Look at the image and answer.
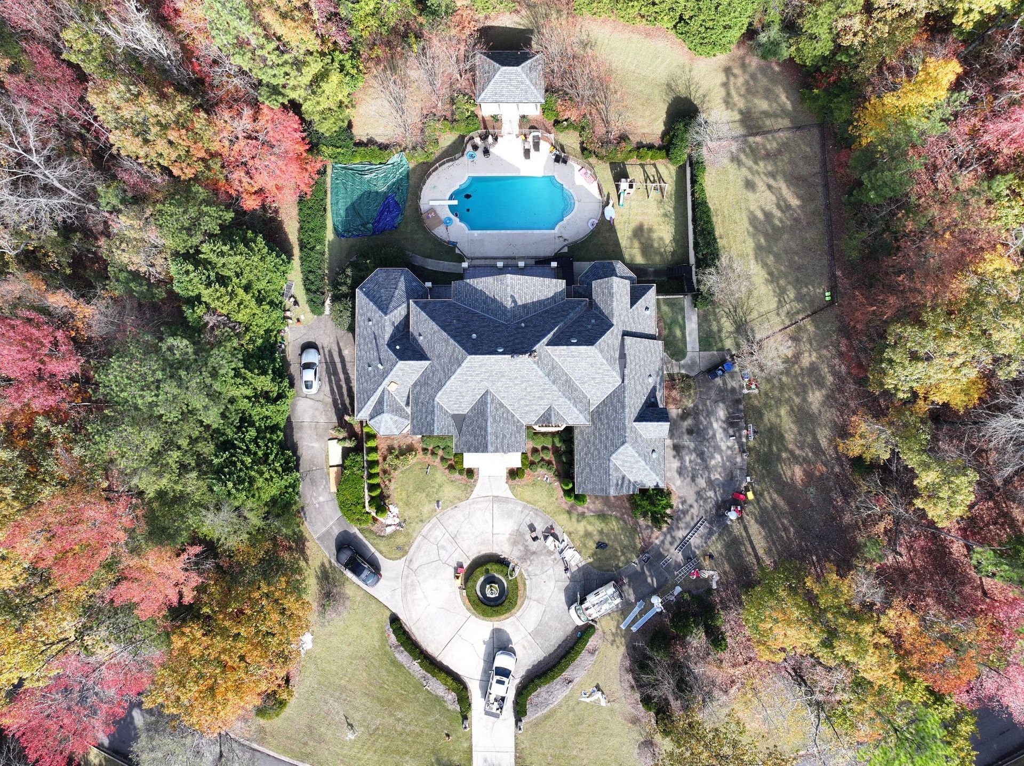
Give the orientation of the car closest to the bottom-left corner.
on a diagonal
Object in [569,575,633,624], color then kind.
white van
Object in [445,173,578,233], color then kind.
blue swimming pool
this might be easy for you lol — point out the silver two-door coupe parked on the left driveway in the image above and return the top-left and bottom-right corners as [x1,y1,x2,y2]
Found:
[300,349,321,395]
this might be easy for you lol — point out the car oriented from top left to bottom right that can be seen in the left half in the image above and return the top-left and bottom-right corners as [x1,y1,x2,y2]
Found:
[338,546,381,588]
